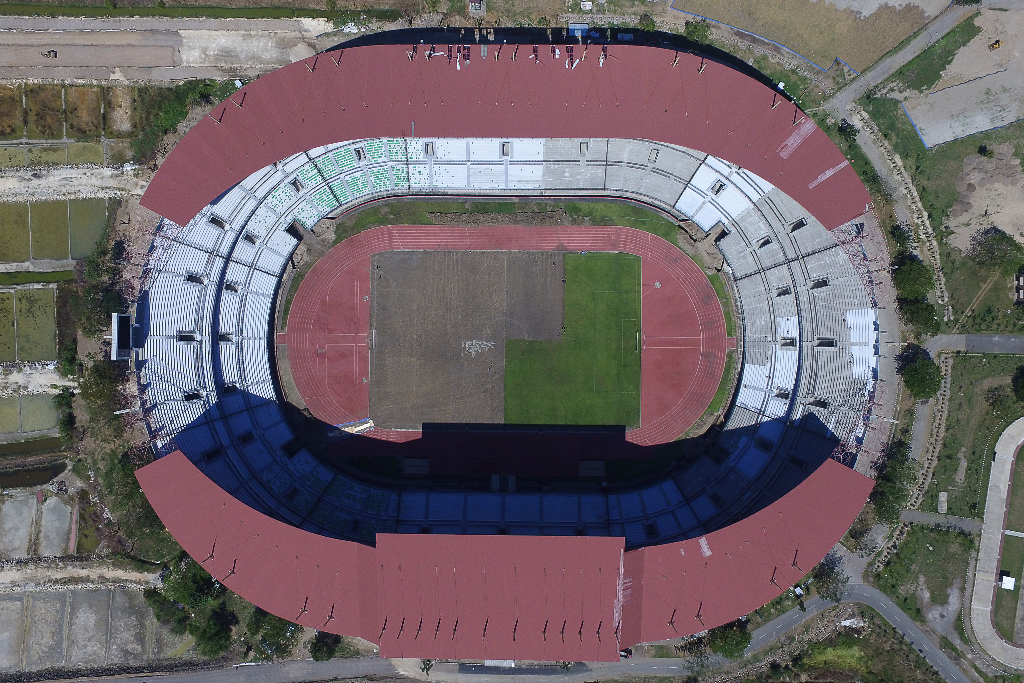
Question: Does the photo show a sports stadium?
Yes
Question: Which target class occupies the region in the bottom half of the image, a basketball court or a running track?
running track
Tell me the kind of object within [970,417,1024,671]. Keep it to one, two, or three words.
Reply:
running track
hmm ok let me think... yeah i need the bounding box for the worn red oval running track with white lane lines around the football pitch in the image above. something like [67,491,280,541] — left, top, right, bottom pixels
[279,225,736,476]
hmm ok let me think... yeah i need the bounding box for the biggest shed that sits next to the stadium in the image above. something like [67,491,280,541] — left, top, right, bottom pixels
[569,21,589,39]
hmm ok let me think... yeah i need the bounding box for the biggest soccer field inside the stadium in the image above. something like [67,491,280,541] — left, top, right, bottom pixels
[370,251,642,431]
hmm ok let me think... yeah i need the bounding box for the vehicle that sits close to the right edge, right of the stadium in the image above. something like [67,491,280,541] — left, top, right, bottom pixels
[989,39,1007,52]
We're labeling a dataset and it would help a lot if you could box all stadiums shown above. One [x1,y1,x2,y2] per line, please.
[99,44,910,662]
